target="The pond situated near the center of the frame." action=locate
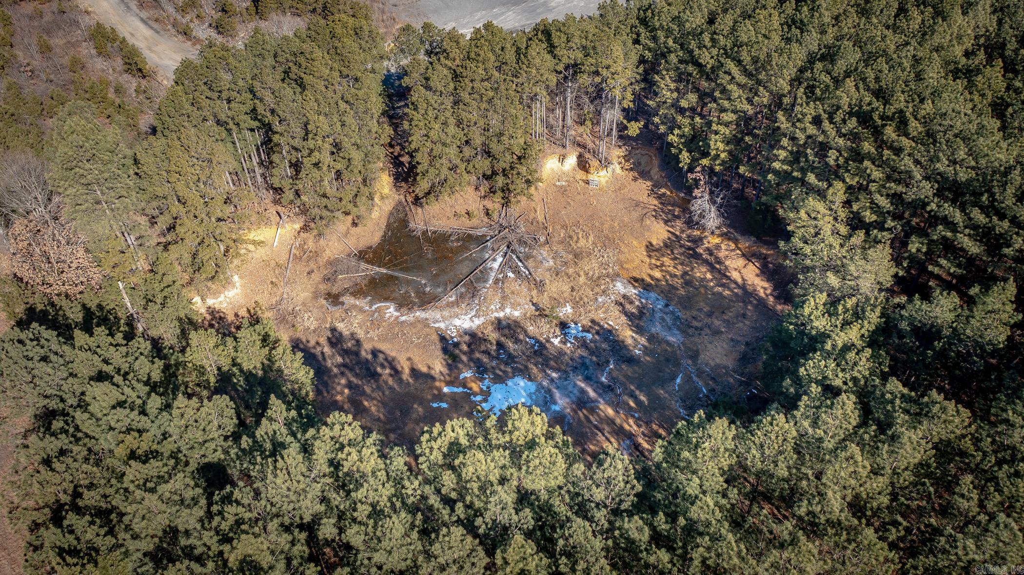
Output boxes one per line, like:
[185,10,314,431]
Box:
[324,217,519,313]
